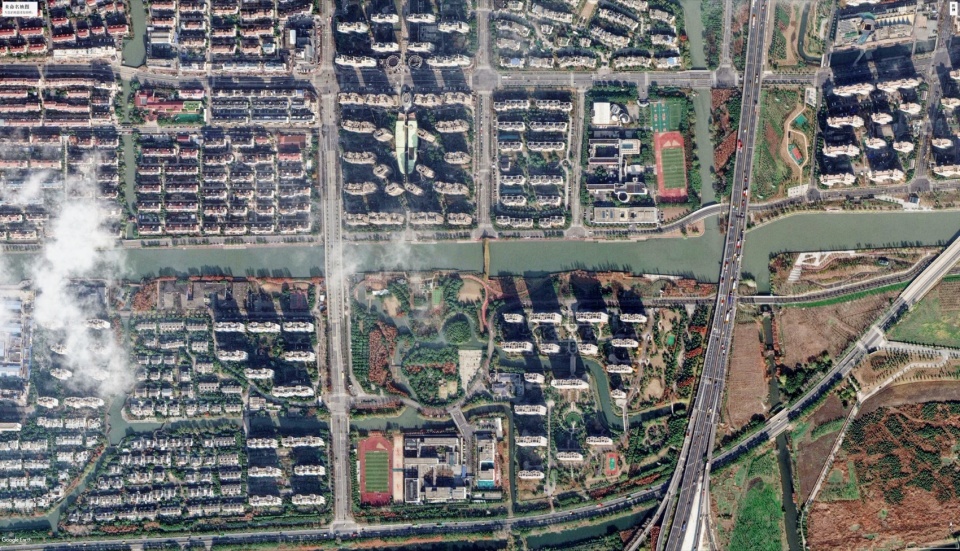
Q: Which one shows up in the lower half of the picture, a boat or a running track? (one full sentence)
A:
You can see a running track in the lower half of the picture.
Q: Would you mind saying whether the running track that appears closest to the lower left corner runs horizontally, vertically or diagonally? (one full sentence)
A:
I'd say the running track that appears closest to the lower left corner is aligned vertically in the picture.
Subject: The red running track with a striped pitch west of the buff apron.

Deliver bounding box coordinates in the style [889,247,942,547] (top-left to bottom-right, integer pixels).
[359,430,393,503]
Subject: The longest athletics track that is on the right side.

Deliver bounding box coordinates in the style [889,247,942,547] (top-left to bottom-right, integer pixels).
[654,131,687,201]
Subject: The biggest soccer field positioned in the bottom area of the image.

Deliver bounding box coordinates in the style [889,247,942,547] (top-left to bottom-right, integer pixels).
[366,452,389,492]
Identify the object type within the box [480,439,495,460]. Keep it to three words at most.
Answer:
building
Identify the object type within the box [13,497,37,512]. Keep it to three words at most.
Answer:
house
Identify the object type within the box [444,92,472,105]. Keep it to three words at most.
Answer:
building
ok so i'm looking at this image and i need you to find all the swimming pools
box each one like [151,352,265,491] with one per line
[501,187,523,194]
[499,134,519,140]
